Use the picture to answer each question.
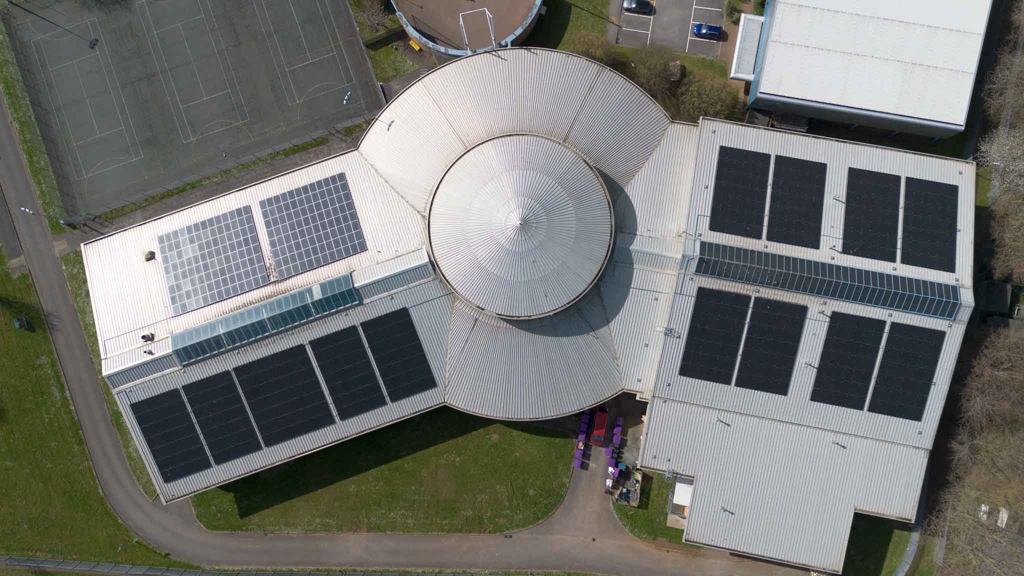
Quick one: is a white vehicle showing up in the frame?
No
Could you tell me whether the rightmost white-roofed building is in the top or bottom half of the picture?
top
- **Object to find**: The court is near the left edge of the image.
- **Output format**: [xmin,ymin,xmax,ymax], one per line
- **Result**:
[10,0,368,206]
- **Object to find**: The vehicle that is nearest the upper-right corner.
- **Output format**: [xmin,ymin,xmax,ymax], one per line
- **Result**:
[694,24,722,40]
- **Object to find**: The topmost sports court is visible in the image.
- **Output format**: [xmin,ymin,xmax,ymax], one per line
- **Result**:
[393,0,536,49]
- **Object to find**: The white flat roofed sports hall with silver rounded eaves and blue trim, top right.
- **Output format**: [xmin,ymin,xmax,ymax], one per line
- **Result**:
[725,0,989,145]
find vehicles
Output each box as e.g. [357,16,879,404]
[694,24,722,40]
[624,0,654,13]
[592,408,609,443]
